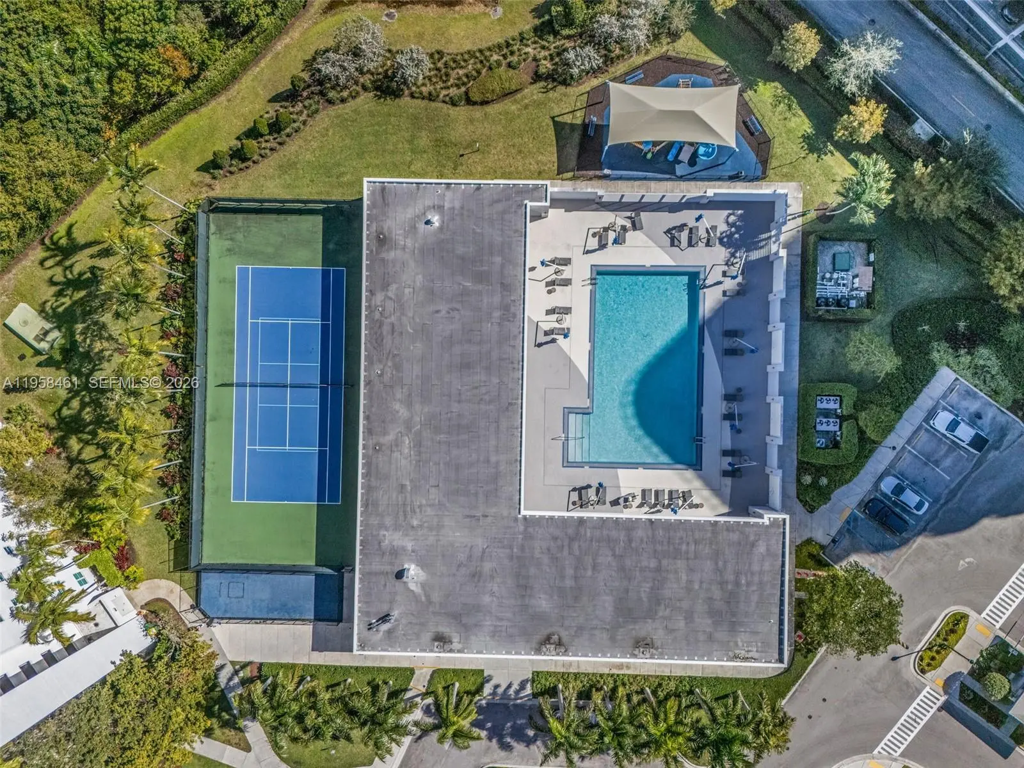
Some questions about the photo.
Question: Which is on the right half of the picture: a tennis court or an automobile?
automobile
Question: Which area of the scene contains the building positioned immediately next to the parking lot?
center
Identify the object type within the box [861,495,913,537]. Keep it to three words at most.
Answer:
car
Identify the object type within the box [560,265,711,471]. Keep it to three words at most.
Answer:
swimming pool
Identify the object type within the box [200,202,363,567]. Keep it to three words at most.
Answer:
tennis court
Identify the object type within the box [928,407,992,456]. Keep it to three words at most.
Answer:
truck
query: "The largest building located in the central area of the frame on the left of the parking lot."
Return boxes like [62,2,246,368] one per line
[353,179,789,667]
